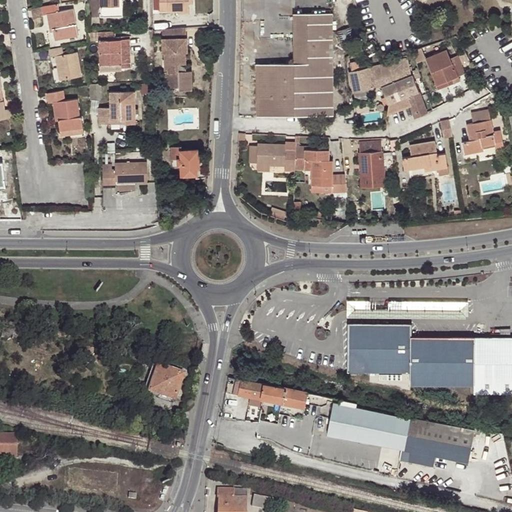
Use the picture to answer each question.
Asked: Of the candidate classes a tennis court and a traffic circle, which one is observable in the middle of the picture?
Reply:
traffic circle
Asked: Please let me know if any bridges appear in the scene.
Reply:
No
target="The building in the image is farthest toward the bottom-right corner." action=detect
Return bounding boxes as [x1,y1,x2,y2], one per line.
[401,422,474,468]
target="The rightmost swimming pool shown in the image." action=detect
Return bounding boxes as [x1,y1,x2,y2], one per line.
[482,178,504,194]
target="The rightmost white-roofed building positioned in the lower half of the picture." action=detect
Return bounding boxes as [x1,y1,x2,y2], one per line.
[474,338,512,394]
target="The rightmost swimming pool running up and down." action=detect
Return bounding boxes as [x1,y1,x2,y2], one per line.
[442,181,456,206]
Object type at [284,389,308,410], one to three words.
house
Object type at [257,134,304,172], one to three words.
house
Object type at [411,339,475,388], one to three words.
building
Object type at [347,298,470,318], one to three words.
building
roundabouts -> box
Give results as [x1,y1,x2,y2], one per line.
[172,210,265,303]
